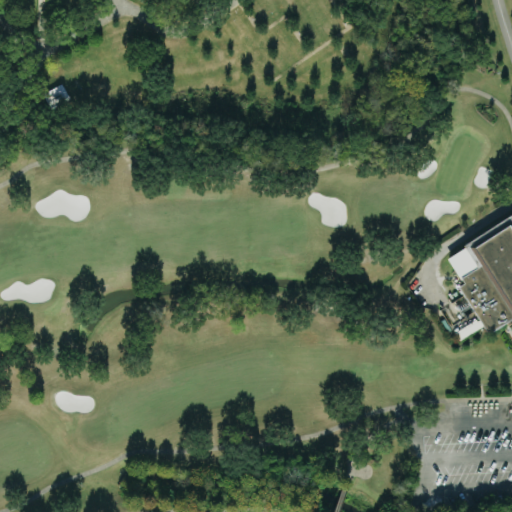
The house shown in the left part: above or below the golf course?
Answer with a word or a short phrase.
above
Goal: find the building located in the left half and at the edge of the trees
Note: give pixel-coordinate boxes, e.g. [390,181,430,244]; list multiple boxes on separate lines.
[50,84,69,112]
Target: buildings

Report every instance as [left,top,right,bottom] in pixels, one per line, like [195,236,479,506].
[449,217,512,334]
[50,84,69,112]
